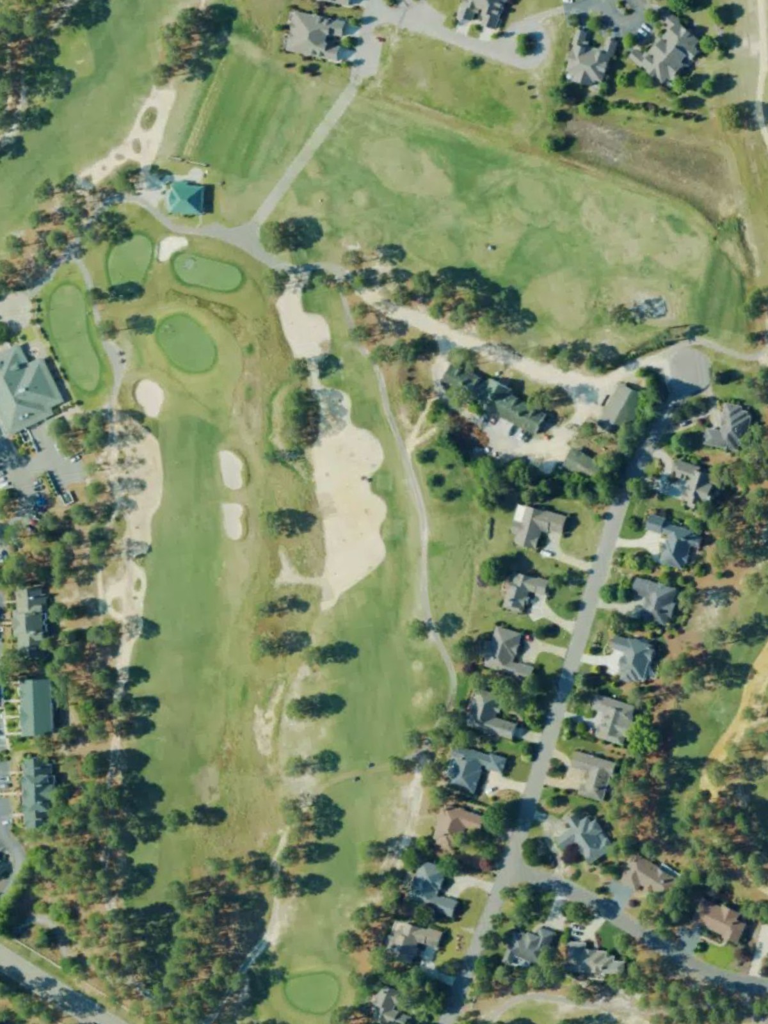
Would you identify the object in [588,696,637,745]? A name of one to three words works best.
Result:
house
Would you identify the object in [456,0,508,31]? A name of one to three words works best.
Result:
house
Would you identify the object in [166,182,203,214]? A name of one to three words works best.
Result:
building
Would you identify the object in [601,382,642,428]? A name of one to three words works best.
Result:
shed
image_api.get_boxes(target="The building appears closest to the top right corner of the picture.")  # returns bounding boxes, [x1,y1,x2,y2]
[627,14,702,83]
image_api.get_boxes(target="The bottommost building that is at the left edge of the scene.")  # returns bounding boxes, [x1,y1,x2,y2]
[20,757,55,830]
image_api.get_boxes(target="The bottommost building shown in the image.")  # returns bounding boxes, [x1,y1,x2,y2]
[369,986,417,1024]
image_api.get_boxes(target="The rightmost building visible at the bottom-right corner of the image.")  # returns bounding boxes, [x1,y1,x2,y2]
[696,900,754,952]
